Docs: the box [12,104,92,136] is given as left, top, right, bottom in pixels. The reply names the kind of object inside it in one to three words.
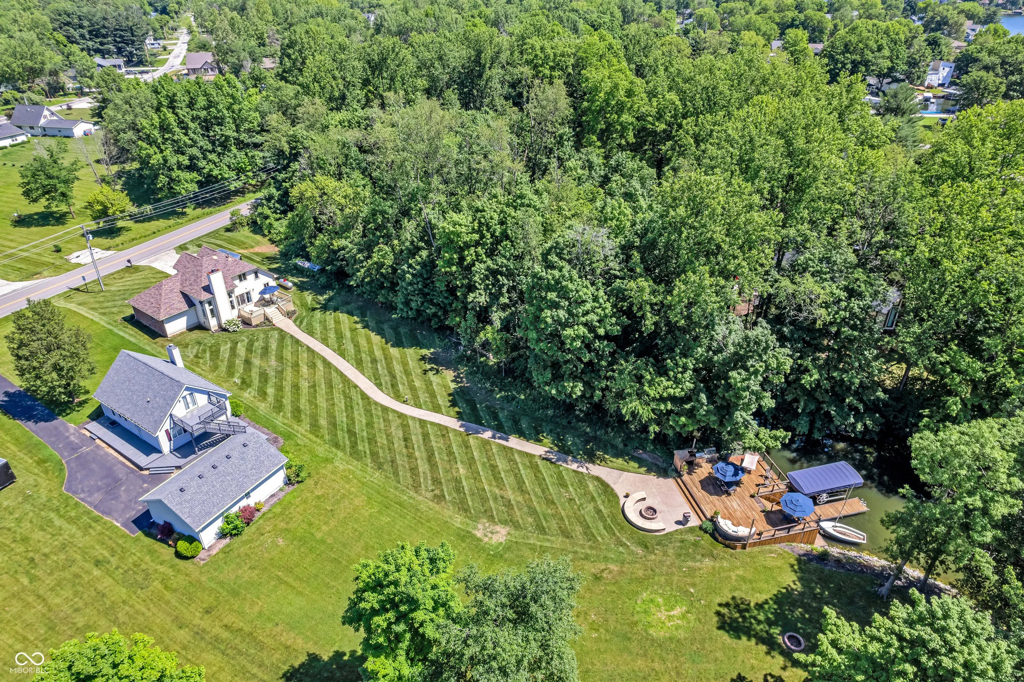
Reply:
house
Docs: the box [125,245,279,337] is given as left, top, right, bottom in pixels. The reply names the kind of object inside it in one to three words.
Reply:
house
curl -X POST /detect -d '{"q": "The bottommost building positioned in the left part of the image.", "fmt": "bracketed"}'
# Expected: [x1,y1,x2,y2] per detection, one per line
[139,431,291,552]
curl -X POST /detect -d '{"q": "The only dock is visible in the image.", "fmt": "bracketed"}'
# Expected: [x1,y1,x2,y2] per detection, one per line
[812,497,870,522]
